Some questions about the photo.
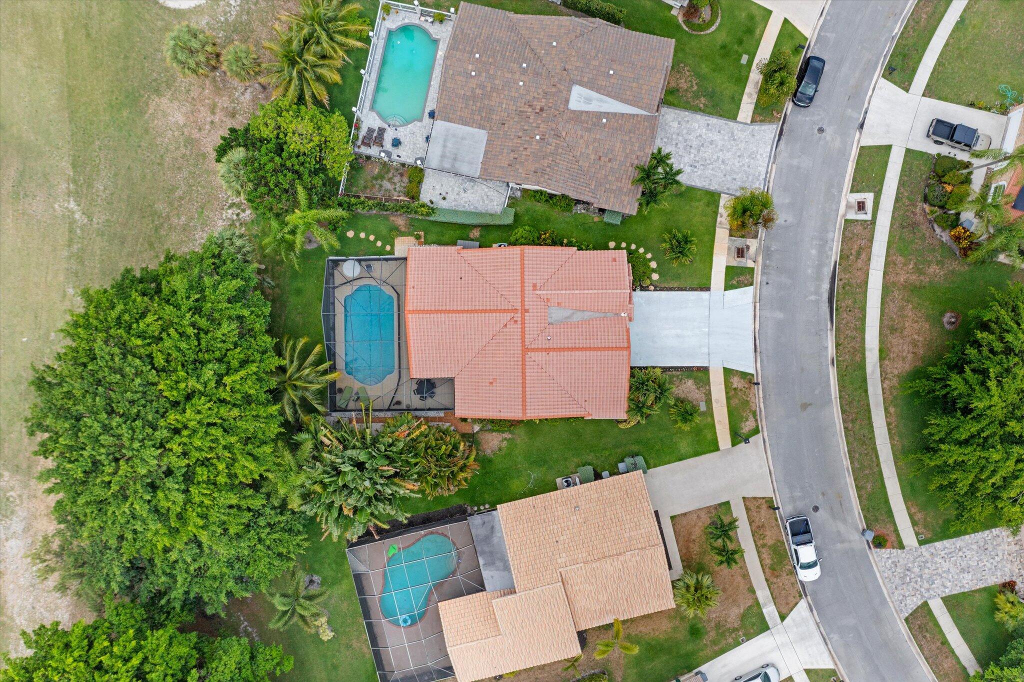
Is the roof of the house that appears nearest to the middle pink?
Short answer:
Yes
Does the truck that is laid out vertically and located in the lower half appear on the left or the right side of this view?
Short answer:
right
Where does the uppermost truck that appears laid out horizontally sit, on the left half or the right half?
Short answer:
right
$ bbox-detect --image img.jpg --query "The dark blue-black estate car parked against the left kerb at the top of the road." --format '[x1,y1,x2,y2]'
[794,54,827,109]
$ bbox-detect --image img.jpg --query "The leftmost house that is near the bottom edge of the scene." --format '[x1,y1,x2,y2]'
[437,470,677,682]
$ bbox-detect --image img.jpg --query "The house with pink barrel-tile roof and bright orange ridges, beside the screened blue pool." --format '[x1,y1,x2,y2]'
[403,244,635,421]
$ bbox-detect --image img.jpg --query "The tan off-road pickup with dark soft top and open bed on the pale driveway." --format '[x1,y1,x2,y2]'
[923,116,993,156]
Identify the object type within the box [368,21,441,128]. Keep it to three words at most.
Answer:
swimming pool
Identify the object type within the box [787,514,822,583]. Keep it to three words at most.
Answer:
truck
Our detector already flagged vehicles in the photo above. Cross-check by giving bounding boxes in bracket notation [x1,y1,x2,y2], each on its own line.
[794,54,827,109]
[733,663,782,682]
[787,514,822,583]
[923,116,993,156]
